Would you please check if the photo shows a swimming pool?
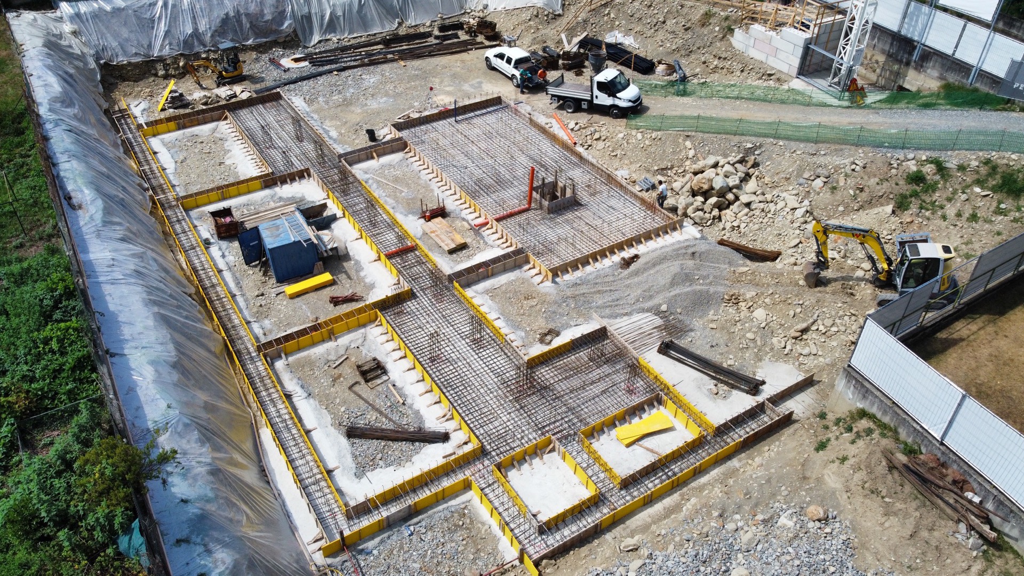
No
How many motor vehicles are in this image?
4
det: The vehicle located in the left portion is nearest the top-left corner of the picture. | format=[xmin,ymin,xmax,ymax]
[184,43,243,85]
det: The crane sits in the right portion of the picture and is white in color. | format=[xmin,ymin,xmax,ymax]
[827,0,884,88]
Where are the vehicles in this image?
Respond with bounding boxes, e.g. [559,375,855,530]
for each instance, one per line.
[801,218,962,312]
[184,43,243,85]
[540,71,648,119]
[491,48,549,87]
